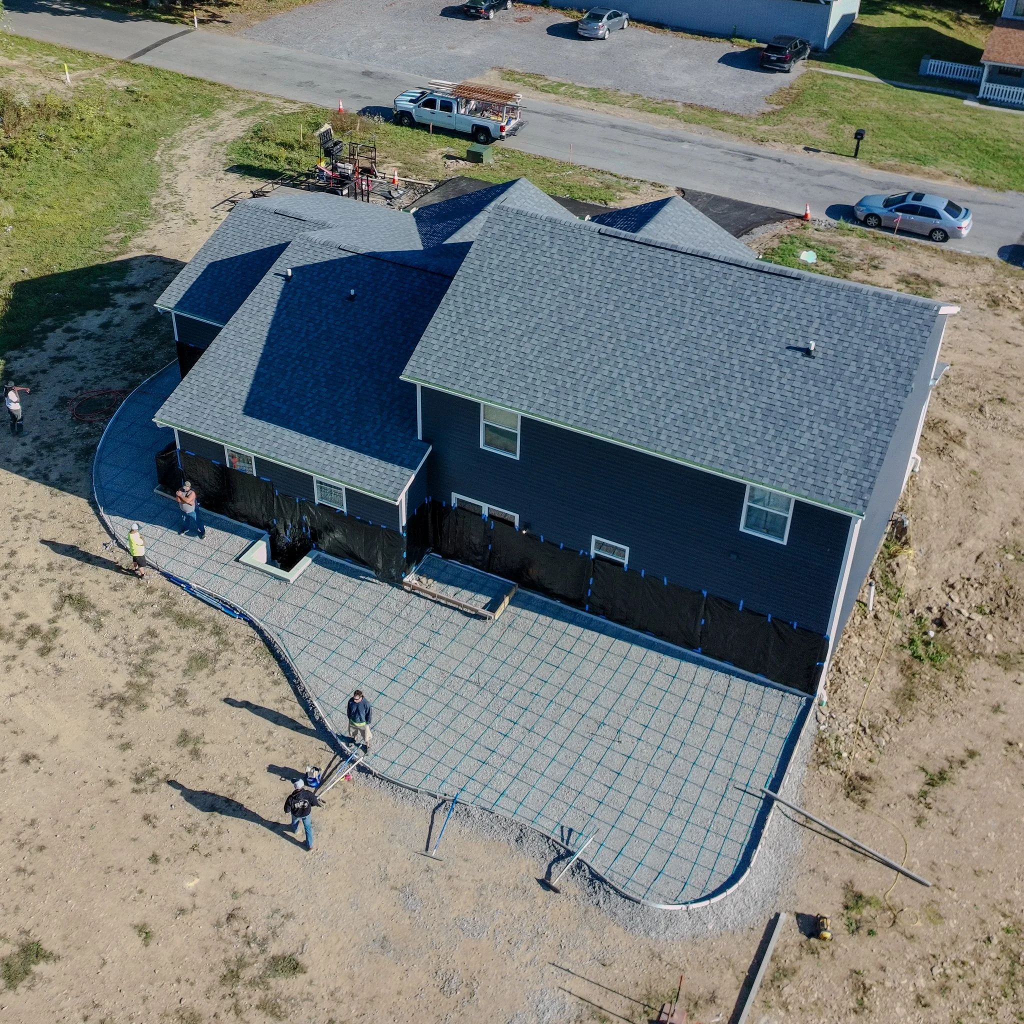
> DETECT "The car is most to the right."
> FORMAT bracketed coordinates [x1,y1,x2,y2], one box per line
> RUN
[852,201,978,253]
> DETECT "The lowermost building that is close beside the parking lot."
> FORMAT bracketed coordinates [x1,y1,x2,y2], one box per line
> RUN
[148,177,964,704]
